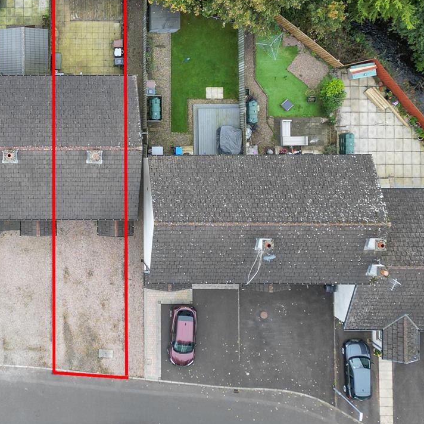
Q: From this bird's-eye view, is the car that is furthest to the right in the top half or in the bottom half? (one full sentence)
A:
Seen from above, the car that is furthest to the right lies in the bottom half of the view.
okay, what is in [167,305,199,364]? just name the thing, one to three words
car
